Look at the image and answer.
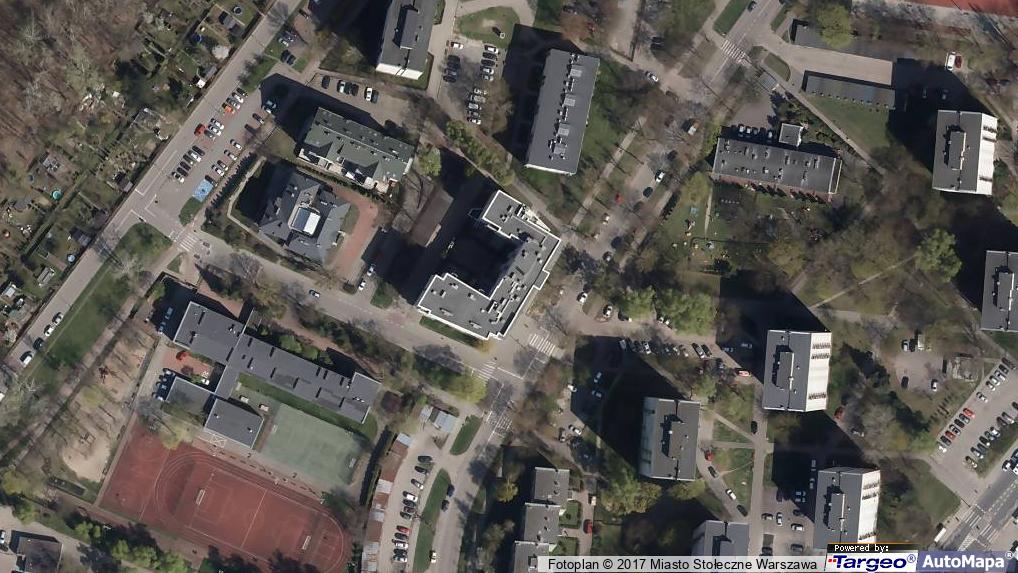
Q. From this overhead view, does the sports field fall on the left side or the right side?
left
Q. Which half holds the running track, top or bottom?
bottom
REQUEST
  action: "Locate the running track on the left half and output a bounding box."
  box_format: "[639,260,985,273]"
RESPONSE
[99,415,346,573]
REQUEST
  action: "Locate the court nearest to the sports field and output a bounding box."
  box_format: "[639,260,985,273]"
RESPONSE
[259,404,367,489]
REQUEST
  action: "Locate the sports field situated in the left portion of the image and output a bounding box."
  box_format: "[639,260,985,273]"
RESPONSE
[160,464,338,573]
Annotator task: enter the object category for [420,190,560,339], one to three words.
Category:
building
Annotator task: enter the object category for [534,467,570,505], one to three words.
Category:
house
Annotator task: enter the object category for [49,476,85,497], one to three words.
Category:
shed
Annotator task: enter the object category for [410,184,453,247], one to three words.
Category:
building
